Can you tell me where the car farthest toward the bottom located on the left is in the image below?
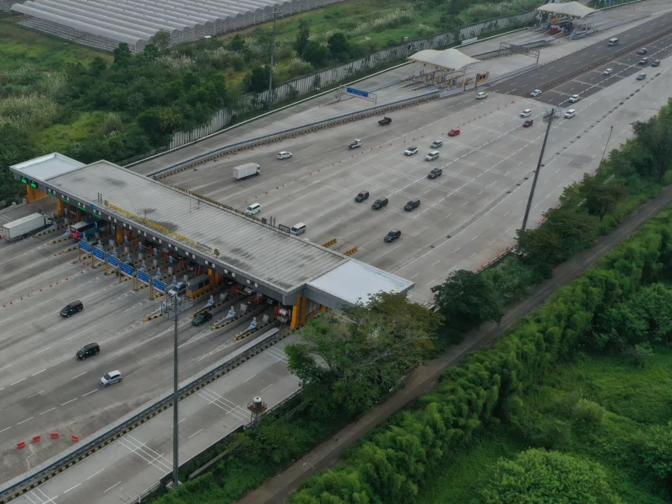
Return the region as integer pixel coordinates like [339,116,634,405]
[99,369,123,386]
